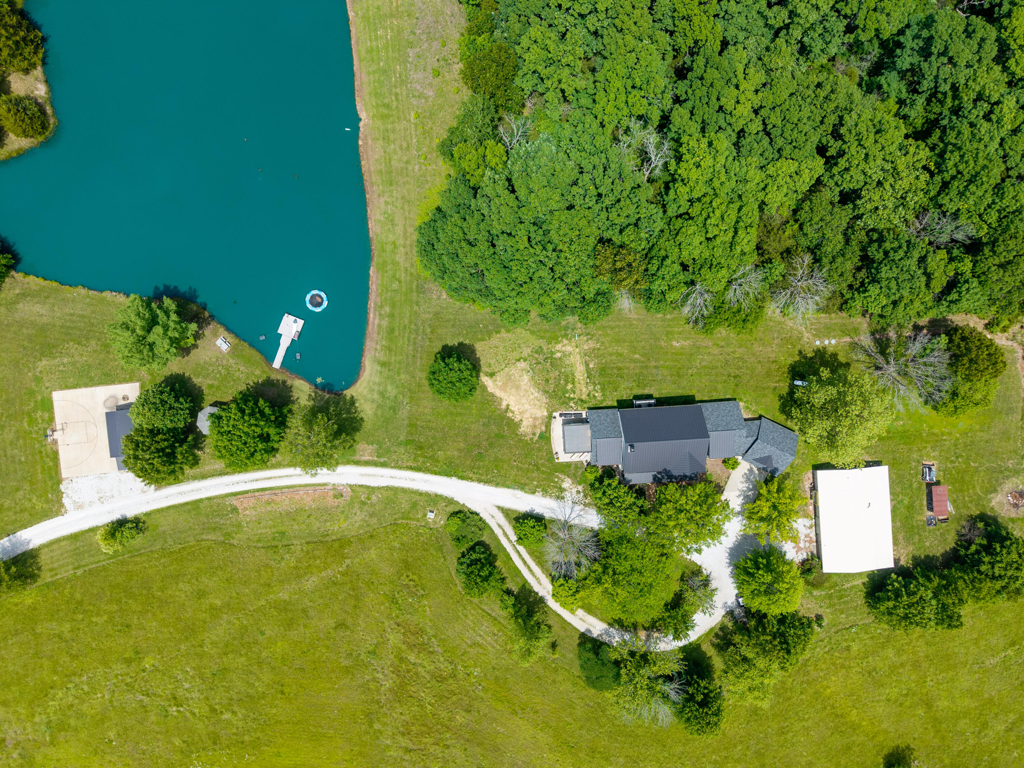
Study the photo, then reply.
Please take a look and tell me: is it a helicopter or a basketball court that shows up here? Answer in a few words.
basketball court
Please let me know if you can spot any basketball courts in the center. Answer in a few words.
No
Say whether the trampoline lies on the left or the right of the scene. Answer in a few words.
left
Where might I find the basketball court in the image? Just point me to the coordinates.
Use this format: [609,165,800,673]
[52,383,148,478]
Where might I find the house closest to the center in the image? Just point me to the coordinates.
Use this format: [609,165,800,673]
[588,399,798,483]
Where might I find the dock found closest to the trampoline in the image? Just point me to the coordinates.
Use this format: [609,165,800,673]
[272,313,305,369]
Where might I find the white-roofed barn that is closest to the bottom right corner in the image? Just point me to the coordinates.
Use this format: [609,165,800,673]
[811,466,894,573]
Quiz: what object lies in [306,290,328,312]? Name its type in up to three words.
trampoline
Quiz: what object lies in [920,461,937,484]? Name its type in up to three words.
work vehicle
